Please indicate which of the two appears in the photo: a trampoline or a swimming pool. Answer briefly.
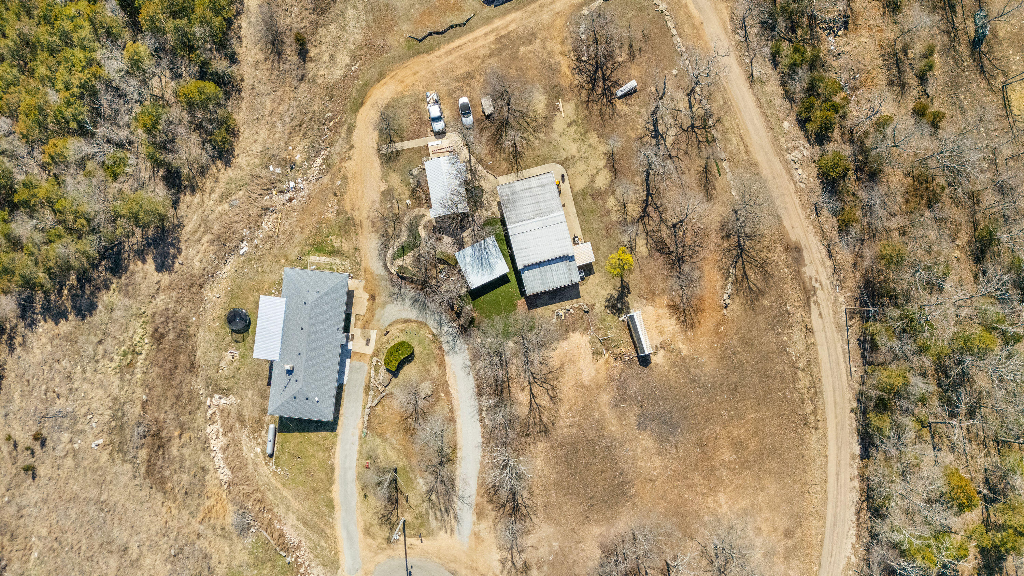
trampoline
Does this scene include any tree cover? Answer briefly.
Yes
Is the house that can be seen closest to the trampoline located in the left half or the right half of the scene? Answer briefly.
left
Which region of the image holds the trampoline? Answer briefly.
left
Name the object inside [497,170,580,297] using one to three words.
building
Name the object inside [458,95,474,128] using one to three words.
car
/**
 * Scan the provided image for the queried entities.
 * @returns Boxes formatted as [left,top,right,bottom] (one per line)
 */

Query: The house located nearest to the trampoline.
[268,267,351,422]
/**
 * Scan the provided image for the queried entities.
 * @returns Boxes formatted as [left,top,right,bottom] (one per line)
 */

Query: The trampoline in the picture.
[217,305,249,331]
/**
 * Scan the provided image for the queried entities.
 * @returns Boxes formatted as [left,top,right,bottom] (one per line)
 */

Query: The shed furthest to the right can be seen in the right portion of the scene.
[627,311,653,356]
